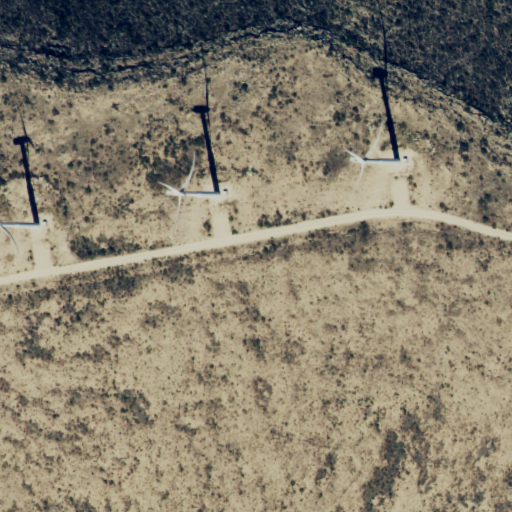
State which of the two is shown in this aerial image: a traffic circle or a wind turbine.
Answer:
wind turbine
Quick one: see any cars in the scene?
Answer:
No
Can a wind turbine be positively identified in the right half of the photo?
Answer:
Yes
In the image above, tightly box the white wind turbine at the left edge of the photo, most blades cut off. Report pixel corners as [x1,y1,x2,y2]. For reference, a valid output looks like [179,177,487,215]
[0,220,41,250]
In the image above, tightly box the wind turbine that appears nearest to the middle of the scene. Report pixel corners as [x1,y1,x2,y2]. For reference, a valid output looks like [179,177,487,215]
[152,154,221,236]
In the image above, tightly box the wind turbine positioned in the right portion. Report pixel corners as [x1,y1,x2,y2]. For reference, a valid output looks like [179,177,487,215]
[340,124,402,202]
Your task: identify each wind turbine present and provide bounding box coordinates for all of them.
[0,220,41,250]
[340,124,402,202]
[152,154,221,236]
